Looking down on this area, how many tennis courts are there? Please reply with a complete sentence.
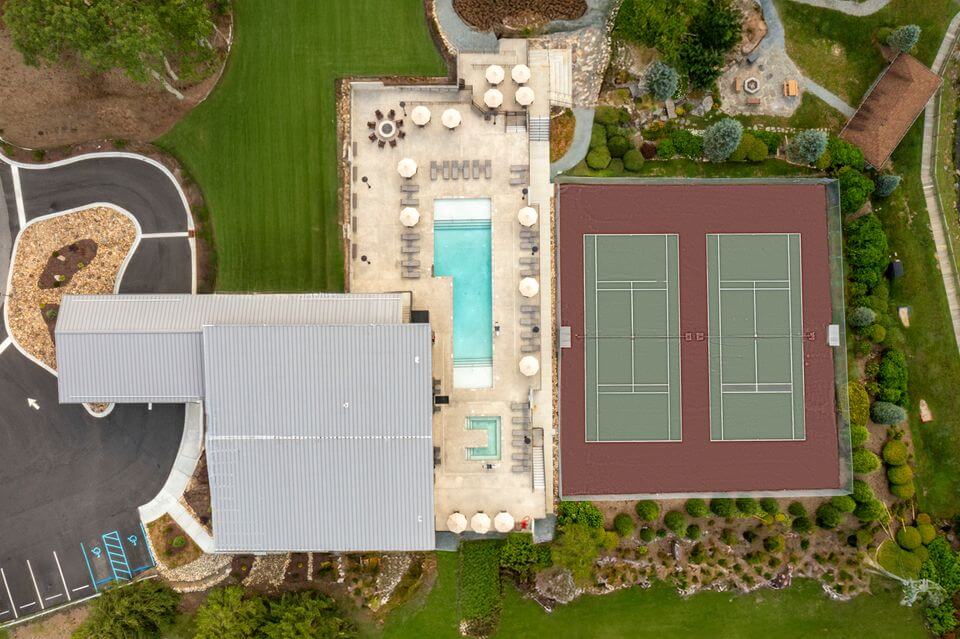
The count of tennis courts comes to 2.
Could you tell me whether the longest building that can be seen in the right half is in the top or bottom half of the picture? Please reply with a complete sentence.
It is in the top half that the longest building that can be seen in the right half appears.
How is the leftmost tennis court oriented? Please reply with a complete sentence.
Seen from above, the leftmost tennis court lies up and down.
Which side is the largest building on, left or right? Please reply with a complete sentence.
The largest building is on the left side of the image.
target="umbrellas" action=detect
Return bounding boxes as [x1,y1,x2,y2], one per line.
[486,65,504,84]
[471,513,490,533]
[518,206,537,226]
[494,512,514,531]
[483,88,503,109]
[398,157,417,178]
[519,356,539,376]
[399,207,420,227]
[411,106,431,126]
[447,513,467,533]
[442,110,460,128]
[515,86,535,107]
[511,64,531,84]
[519,277,539,297]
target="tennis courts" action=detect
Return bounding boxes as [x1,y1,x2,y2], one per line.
[584,234,682,441]
[706,234,805,440]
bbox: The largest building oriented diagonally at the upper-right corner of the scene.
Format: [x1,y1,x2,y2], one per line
[835,52,943,170]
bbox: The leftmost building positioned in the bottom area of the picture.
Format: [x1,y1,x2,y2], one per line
[48,290,436,553]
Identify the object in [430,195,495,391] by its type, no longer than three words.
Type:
swimming pool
